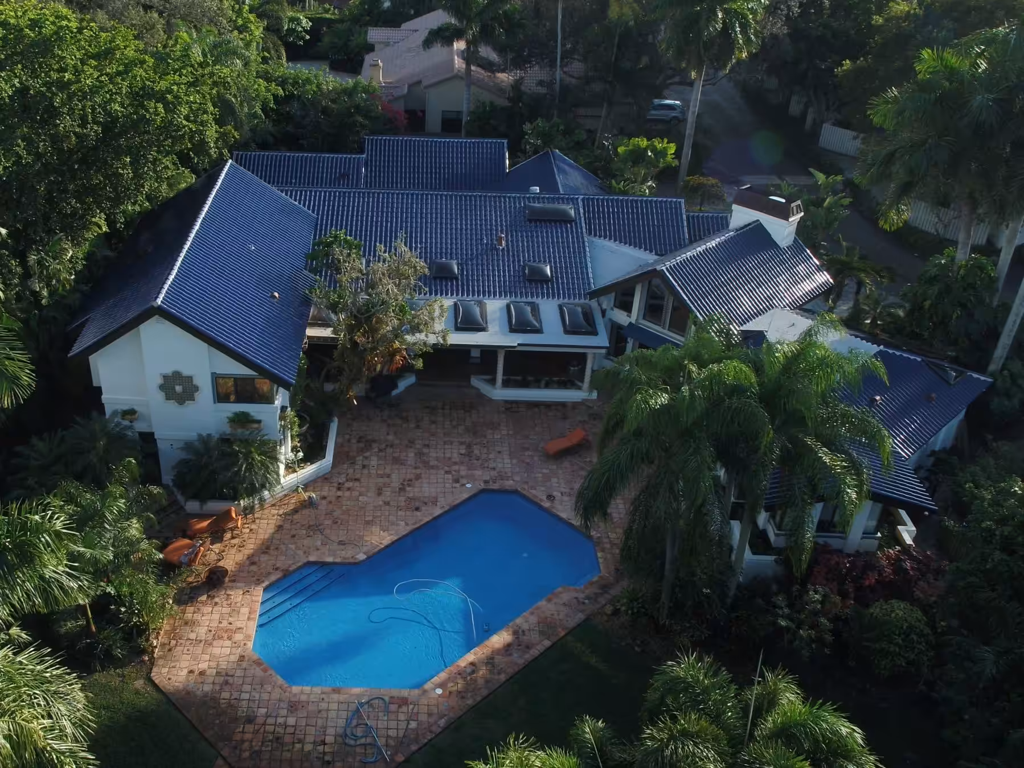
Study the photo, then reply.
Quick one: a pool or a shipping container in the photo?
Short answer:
pool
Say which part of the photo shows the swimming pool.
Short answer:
bottom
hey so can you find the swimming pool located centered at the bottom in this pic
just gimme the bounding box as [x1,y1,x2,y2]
[254,495,599,692]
